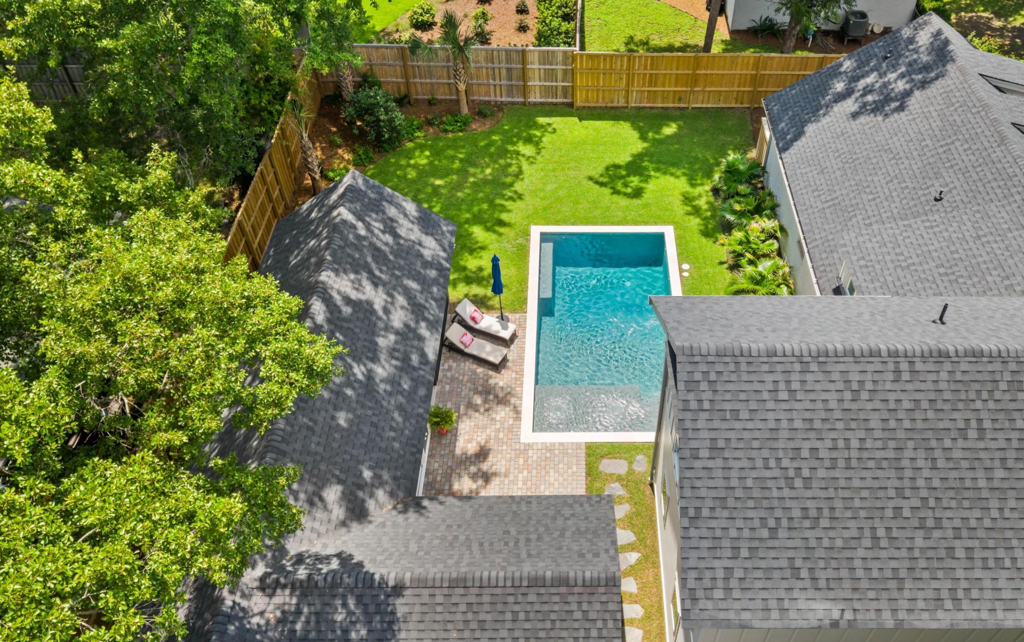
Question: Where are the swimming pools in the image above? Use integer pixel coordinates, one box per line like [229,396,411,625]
[521,224,684,442]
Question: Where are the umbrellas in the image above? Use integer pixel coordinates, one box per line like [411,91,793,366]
[490,253,515,323]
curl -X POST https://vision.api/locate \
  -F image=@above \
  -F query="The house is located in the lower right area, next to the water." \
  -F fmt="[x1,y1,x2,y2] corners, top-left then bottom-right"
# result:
[641,295,1024,642]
